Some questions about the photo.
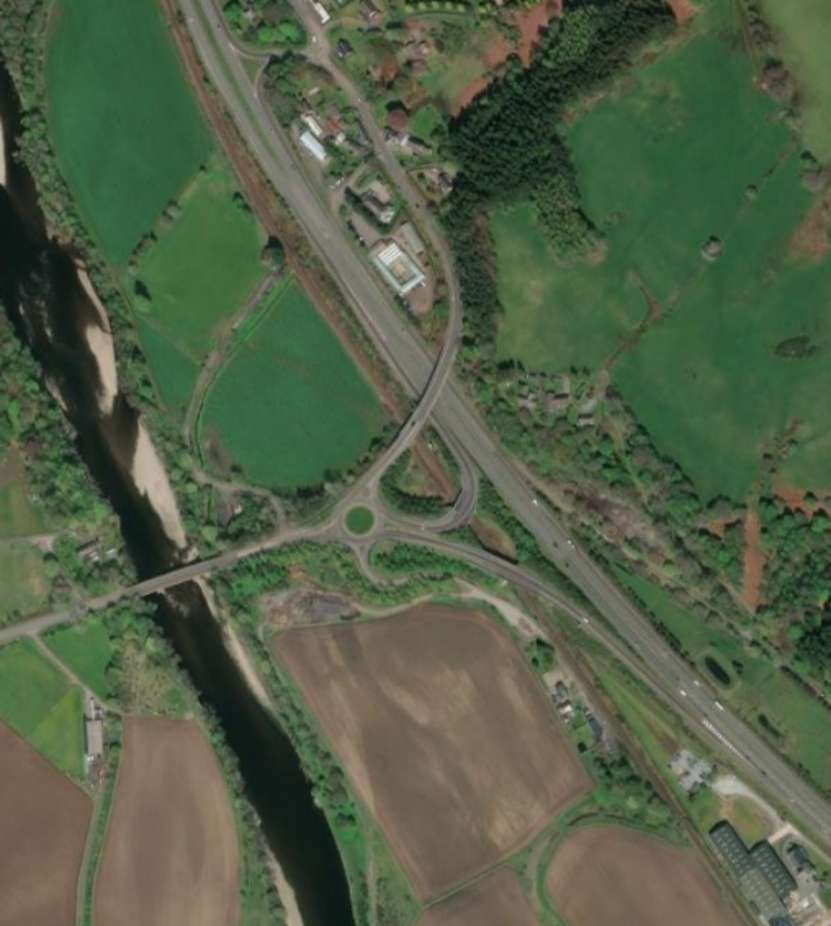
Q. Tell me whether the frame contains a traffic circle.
Yes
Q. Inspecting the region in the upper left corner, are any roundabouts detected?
No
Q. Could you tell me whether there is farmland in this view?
Yes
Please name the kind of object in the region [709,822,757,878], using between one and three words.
building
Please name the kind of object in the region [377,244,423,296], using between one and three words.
building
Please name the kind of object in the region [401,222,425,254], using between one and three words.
shed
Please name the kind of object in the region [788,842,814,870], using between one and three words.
house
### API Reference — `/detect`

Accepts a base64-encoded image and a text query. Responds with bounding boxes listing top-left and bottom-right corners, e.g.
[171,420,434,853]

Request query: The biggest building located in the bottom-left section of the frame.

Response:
[86,720,102,756]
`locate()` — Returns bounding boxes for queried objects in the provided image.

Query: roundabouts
[334,485,406,556]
